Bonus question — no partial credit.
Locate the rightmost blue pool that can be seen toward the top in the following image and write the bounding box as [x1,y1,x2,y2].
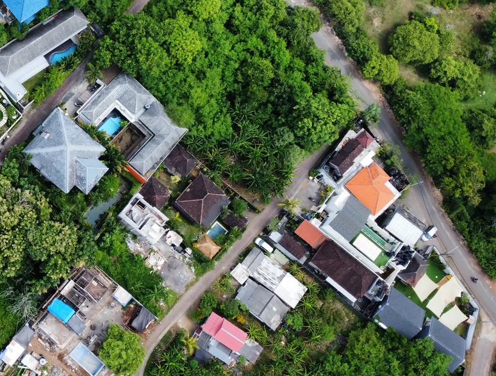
[96,112,123,137]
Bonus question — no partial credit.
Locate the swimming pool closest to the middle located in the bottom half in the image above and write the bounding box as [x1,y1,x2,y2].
[205,221,228,241]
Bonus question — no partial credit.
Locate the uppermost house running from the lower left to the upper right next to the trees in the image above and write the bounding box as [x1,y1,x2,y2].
[0,7,90,100]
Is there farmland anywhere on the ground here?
No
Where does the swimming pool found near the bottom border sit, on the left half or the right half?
left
